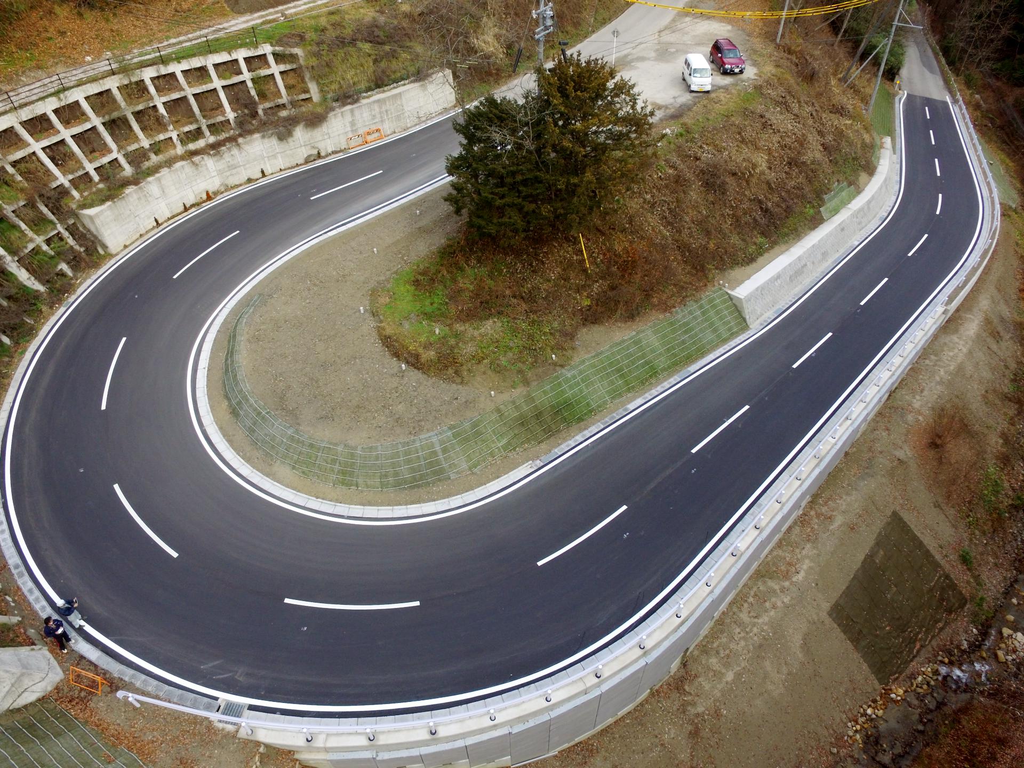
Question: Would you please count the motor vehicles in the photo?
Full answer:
In total, 2 motor vehicles can be seen.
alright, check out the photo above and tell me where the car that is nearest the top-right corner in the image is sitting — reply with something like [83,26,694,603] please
[712,29,751,65]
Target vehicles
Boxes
[712,29,751,65]
[686,46,717,85]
